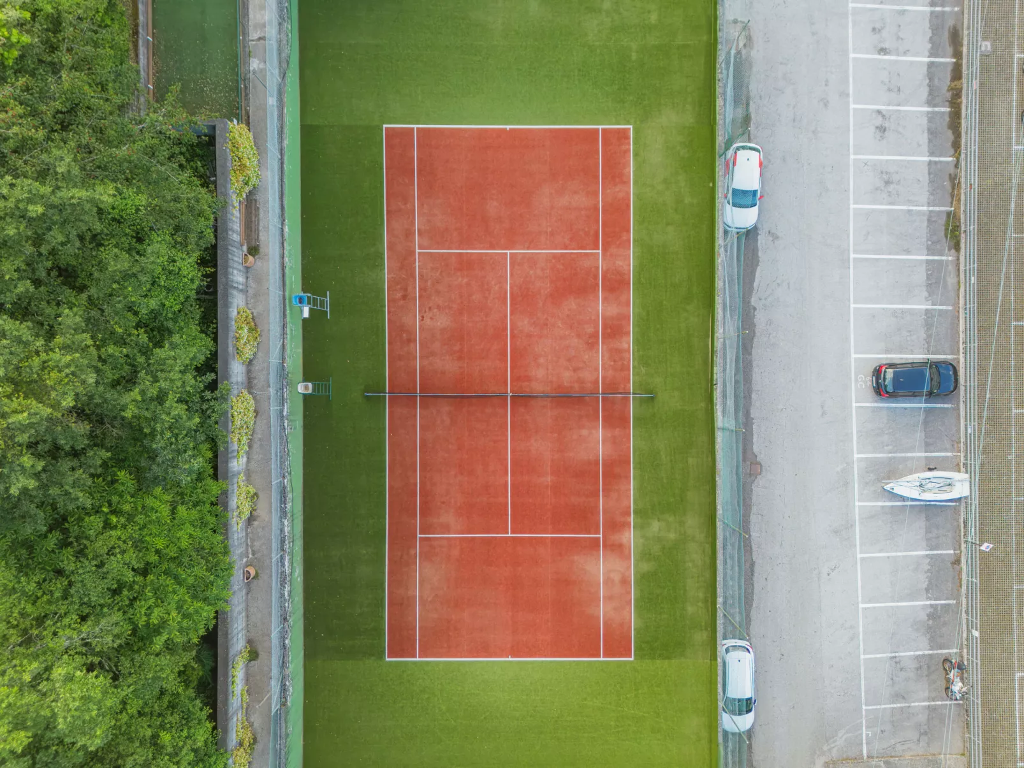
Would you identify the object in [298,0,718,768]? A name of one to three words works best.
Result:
tennis court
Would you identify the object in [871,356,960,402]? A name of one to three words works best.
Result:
car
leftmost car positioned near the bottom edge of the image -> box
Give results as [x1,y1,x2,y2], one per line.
[725,638,763,731]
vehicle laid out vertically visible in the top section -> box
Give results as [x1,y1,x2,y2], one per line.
[725,144,767,232]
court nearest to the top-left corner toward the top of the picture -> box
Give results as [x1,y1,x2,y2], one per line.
[148,0,247,125]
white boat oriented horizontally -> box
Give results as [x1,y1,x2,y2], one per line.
[882,468,971,504]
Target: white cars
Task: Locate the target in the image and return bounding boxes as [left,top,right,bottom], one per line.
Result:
[725,144,767,232]
[725,638,763,731]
